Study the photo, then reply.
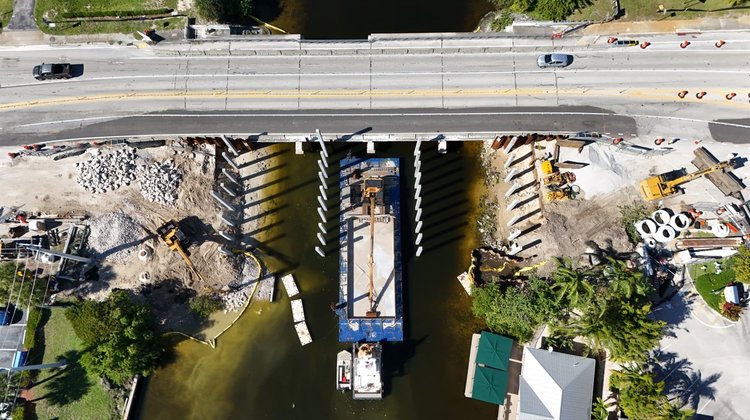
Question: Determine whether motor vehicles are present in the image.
Yes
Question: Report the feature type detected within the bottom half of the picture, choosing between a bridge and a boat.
boat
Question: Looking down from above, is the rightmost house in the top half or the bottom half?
bottom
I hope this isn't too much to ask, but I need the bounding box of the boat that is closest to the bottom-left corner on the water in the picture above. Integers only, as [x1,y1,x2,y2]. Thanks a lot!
[336,351,352,395]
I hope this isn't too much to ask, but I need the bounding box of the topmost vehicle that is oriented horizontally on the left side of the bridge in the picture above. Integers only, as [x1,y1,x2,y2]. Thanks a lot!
[31,61,71,78]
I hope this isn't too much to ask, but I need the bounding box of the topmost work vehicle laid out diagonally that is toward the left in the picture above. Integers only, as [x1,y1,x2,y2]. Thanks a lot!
[153,217,202,281]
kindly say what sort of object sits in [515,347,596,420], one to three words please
house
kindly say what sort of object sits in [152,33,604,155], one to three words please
bridge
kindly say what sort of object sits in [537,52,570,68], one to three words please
car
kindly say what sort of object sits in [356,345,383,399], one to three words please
boat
